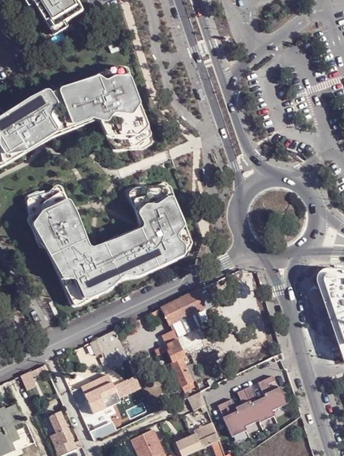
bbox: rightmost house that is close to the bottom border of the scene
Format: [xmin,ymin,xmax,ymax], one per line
[218,376,288,442]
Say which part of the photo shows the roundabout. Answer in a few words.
right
